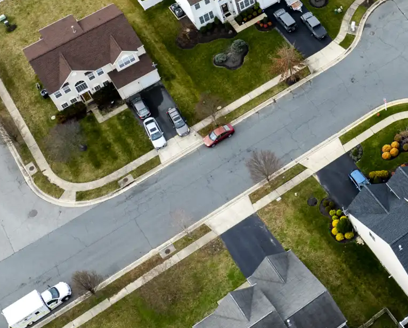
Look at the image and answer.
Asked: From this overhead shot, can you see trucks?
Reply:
Yes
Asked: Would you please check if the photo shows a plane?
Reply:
No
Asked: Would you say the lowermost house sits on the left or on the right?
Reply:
right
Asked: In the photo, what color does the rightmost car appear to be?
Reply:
blue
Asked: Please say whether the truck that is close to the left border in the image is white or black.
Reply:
white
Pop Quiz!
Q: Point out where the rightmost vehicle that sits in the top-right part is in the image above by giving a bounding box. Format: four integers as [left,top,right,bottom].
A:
[302,10,328,40]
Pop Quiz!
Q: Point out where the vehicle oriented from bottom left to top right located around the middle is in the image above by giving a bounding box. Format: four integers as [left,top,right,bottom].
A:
[201,123,237,151]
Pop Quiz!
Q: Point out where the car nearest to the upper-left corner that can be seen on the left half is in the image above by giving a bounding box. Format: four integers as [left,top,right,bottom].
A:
[126,94,150,122]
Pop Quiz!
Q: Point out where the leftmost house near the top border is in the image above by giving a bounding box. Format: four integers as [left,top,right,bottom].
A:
[24,5,159,110]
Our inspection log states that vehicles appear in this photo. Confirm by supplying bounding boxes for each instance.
[126,94,150,122]
[164,106,189,137]
[345,167,373,196]
[302,10,328,40]
[201,123,237,151]
[142,118,165,149]
[273,8,297,32]
[0,291,70,328]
